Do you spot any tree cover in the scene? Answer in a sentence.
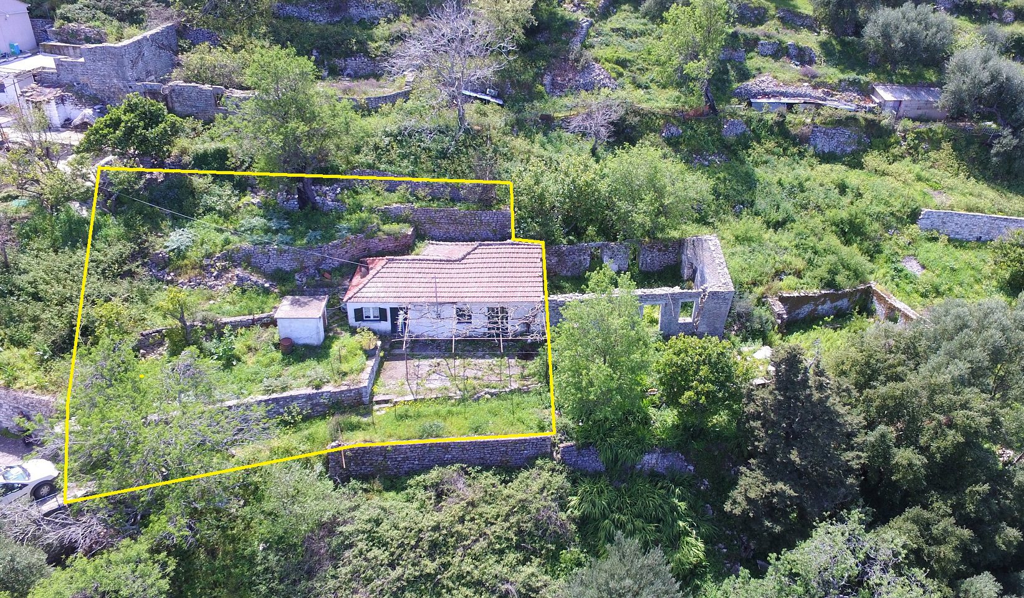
Yes, the picture does contain tree cover.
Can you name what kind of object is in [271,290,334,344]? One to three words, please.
shed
